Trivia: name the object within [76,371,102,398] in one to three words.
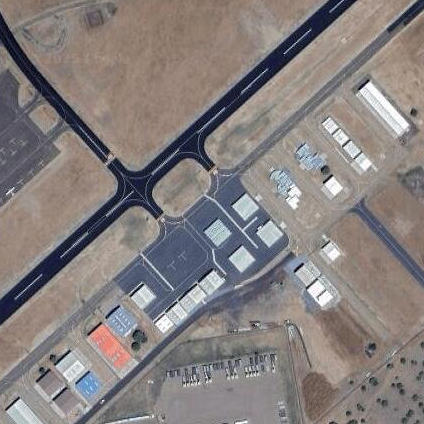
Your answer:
hangar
